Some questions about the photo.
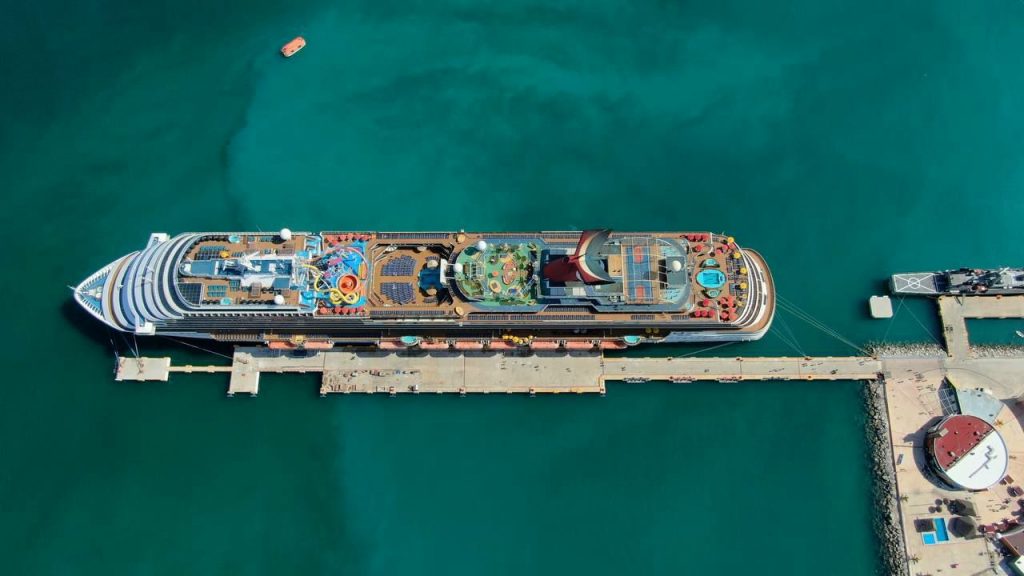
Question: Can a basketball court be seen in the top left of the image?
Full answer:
No, I see no basketball court in the top left of the image.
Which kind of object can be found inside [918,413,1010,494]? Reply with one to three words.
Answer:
building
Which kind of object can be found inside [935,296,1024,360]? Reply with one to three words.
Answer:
pier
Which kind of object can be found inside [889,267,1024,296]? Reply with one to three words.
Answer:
ship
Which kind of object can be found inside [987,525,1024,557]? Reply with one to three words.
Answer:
building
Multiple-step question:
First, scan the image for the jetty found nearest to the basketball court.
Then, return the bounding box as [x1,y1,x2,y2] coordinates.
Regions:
[116,346,883,399]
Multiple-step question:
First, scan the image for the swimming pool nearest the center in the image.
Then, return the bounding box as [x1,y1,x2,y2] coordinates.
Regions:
[421,268,440,290]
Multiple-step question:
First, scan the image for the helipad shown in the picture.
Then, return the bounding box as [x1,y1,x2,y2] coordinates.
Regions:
[894,274,936,293]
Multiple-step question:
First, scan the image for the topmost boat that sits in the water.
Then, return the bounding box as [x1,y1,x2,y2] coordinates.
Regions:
[281,40,303,54]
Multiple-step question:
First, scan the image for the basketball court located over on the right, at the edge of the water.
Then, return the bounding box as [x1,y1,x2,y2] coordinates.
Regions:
[623,238,697,306]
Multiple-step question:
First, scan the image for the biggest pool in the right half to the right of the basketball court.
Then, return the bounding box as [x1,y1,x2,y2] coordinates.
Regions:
[696,269,726,288]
